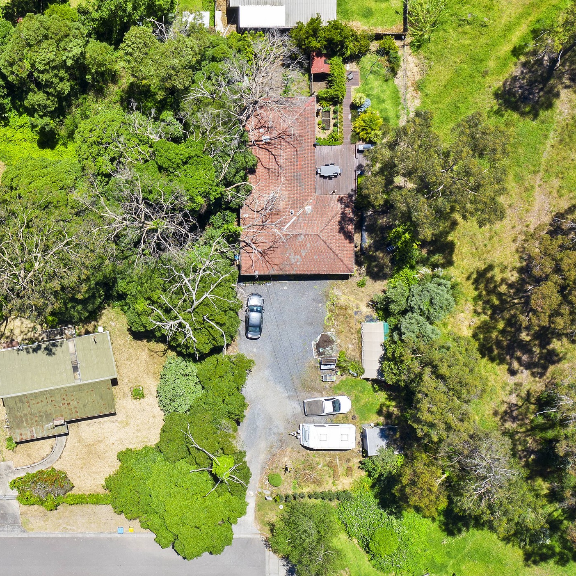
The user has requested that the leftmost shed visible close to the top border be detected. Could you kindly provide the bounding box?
[181,11,209,33]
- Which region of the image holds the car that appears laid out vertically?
center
